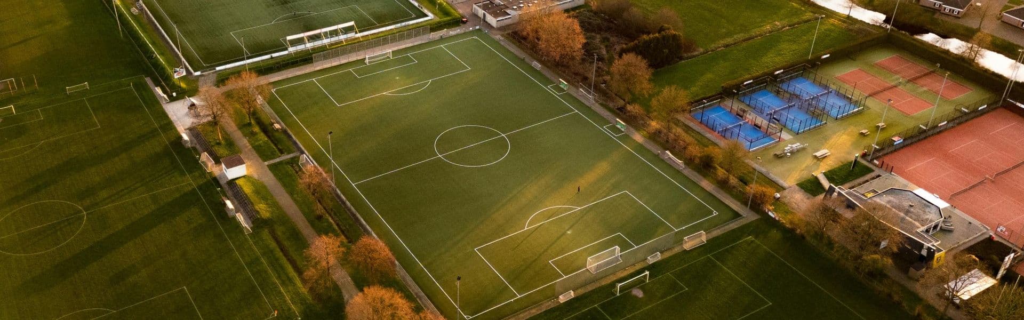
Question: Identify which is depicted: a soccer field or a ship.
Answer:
soccer field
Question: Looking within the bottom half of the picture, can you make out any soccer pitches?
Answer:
Yes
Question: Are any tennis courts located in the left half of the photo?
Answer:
No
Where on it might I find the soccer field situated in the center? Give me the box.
[256,29,743,320]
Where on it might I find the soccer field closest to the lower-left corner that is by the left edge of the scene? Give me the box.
[0,75,301,320]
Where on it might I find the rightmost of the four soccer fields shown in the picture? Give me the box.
[554,231,872,320]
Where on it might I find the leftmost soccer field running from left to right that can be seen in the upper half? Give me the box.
[144,0,427,72]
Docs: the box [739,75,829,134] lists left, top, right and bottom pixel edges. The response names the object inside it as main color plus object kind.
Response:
blue sports court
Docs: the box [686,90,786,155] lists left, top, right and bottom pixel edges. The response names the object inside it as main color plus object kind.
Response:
blue sports court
